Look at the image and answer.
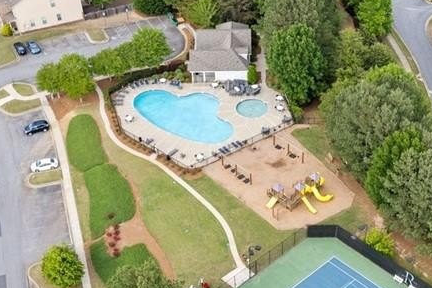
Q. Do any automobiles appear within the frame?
Yes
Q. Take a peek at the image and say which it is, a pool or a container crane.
pool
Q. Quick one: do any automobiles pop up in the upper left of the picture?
Yes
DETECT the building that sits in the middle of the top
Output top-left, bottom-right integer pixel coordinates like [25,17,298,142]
[185,28,253,86]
